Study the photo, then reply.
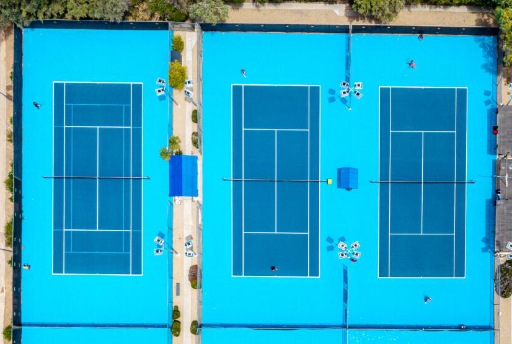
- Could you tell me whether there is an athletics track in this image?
No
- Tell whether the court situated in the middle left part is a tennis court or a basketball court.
tennis court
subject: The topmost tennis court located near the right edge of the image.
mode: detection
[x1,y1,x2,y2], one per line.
[347,34,497,329]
